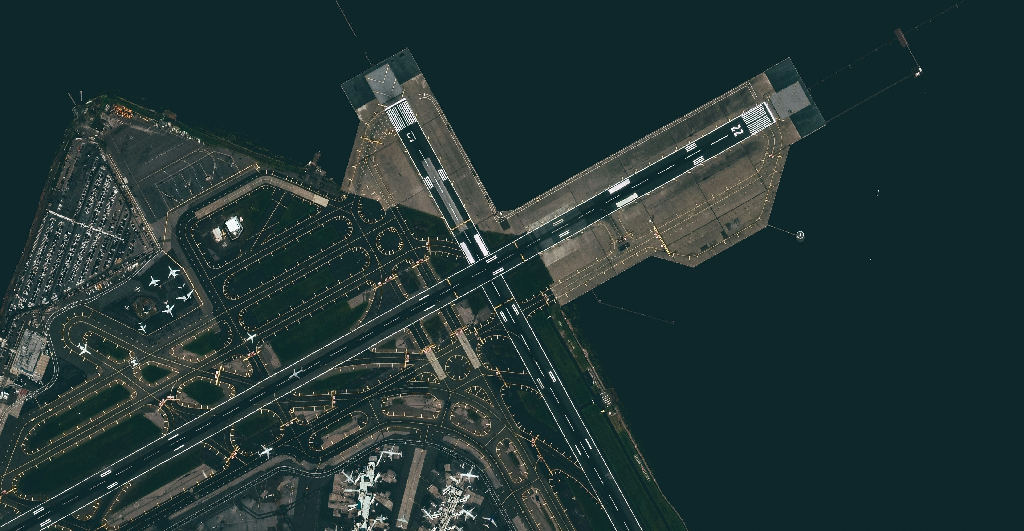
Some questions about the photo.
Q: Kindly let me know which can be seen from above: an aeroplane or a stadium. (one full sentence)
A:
Visible in the photo is an aeroplane.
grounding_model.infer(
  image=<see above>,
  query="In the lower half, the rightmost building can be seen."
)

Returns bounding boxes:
[431,475,470,531]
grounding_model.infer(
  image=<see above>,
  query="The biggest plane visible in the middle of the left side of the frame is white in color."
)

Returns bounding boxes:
[176,284,194,308]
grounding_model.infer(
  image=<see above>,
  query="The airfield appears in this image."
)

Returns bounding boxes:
[0,47,826,531]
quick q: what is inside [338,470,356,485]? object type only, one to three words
airplane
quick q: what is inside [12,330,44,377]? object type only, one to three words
building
